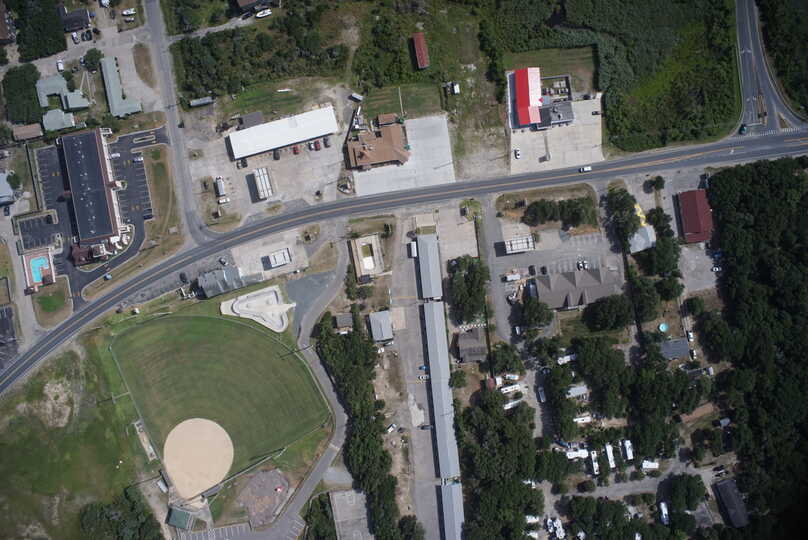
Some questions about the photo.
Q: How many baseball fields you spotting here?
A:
one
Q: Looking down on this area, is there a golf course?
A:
No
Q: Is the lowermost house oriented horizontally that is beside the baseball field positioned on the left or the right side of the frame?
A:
left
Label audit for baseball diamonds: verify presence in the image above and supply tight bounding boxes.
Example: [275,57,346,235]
[112,315,331,502]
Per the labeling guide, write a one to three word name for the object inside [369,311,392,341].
shed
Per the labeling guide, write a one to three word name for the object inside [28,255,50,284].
swimming pool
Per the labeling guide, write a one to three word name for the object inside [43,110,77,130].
house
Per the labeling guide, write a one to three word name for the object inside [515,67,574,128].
building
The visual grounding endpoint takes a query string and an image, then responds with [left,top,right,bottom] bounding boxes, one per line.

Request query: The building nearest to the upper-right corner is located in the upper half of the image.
[679,189,713,242]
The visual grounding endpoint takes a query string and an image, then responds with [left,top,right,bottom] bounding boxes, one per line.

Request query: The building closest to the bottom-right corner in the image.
[716,479,750,528]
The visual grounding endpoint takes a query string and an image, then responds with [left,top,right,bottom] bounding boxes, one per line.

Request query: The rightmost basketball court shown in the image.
[331,490,372,540]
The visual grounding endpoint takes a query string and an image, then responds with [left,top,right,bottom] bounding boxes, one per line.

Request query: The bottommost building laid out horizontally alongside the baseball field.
[200,265,264,298]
